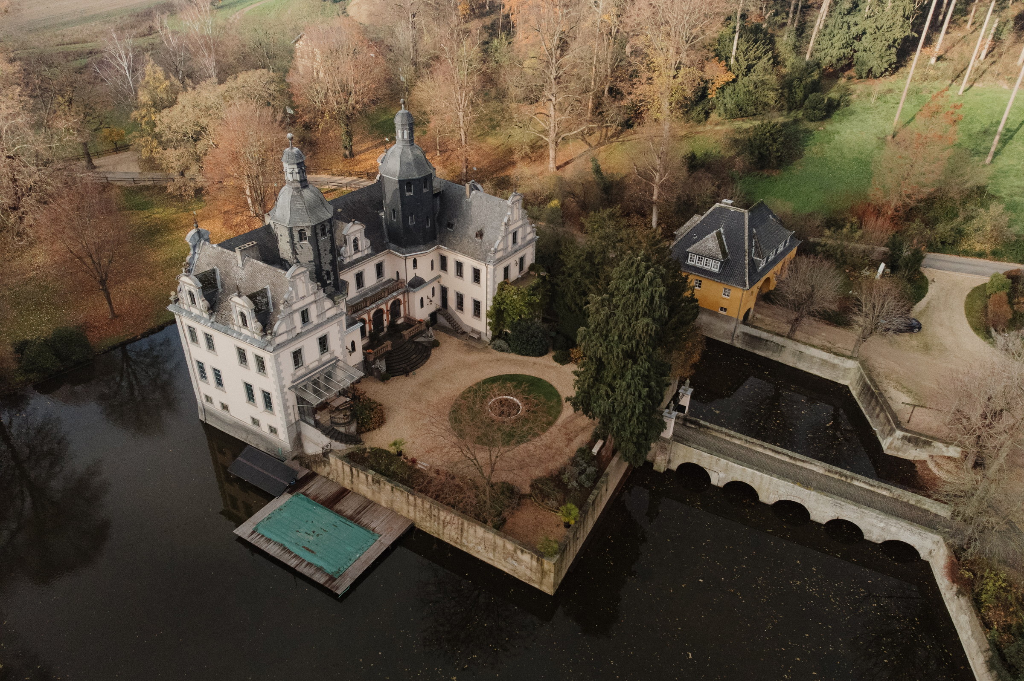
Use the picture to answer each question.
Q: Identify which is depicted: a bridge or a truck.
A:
bridge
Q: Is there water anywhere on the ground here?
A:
Yes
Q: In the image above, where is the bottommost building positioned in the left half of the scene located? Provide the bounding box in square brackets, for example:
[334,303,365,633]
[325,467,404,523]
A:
[161,81,548,469]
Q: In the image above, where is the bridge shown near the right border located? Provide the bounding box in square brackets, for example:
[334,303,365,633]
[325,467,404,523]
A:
[671,416,978,568]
